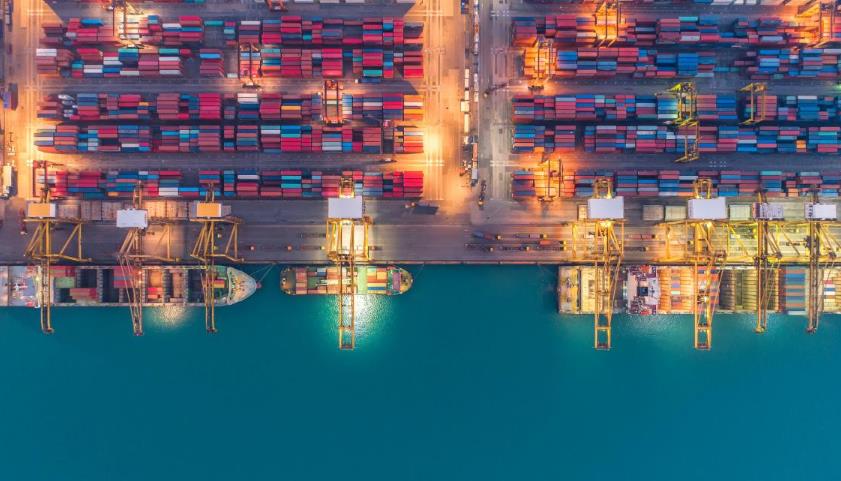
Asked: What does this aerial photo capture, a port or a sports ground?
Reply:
port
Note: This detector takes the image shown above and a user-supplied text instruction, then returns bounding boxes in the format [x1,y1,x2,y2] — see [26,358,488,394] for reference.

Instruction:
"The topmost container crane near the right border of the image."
[793,1,834,49]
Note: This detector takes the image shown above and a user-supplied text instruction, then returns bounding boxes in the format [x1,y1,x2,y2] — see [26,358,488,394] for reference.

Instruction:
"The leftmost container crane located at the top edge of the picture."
[113,1,147,49]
